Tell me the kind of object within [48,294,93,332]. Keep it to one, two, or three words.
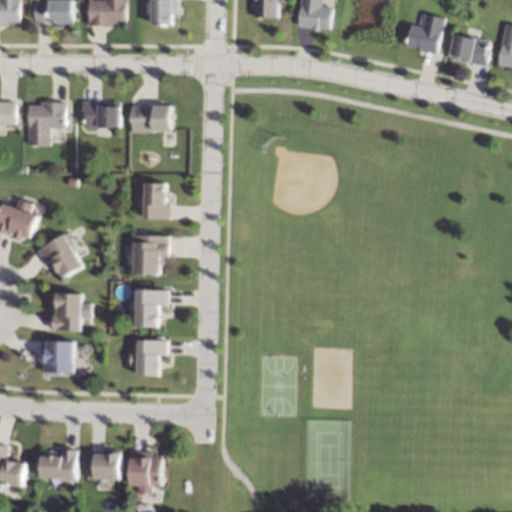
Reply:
house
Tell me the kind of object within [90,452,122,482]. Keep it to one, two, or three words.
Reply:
house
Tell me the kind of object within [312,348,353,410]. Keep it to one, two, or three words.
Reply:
sports court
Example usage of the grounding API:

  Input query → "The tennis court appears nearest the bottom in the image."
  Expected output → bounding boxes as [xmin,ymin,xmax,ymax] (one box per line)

[306,420,352,502]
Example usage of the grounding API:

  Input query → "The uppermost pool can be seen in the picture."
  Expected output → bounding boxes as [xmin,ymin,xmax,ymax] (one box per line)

[116,286,130,300]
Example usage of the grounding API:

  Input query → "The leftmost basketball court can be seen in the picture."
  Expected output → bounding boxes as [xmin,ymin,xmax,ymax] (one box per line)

[261,356,298,416]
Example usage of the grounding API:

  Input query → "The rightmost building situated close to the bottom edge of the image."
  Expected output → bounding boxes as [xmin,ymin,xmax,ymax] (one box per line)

[124,456,162,490]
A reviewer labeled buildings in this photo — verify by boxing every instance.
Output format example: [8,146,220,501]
[128,104,172,134]
[90,452,122,482]
[144,183,174,222]
[87,0,128,27]
[0,200,36,238]
[28,102,66,148]
[0,446,24,487]
[124,456,162,490]
[36,450,80,480]
[137,340,172,378]
[297,0,334,32]
[260,0,282,20]
[48,294,93,332]
[498,22,512,66]
[450,34,488,64]
[134,236,171,276]
[34,0,74,26]
[406,10,450,54]
[136,290,174,328]
[40,234,87,281]
[26,340,76,374]
[0,102,19,136]
[150,0,178,28]
[0,0,22,26]
[80,100,122,128]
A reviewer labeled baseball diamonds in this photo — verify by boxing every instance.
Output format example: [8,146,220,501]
[274,146,338,215]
